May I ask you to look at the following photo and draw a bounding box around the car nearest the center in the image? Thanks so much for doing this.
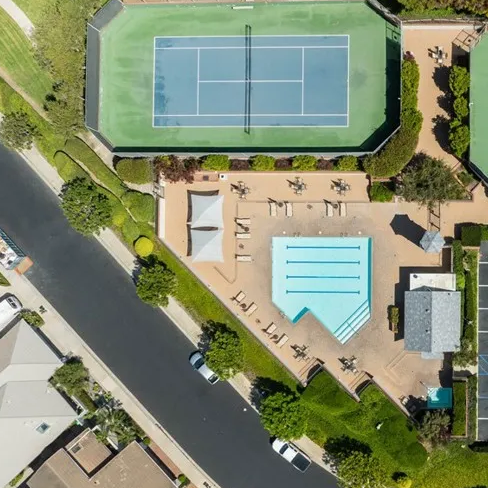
[188,351,219,386]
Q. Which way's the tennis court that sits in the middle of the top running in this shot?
from side to side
